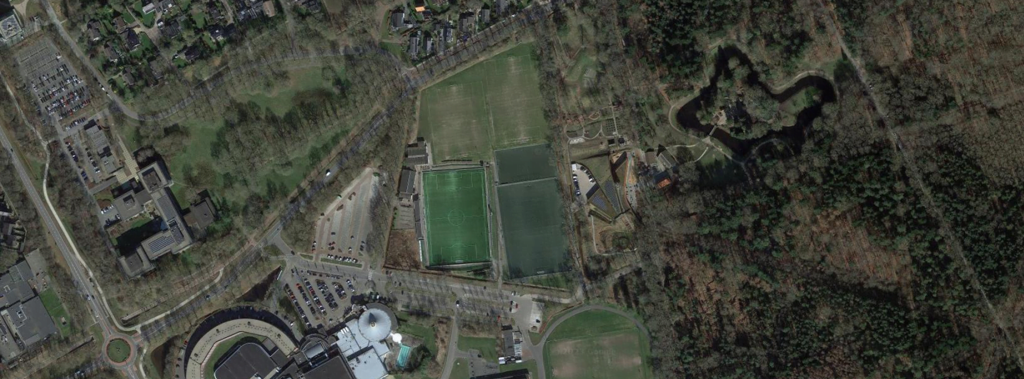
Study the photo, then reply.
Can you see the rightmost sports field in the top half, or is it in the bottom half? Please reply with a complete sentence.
It is in the bottom half that the rightmost sports field appears.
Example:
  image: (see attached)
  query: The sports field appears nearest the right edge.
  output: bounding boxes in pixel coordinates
[547,329,641,379]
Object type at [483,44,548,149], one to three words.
soccer field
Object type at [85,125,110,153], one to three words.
building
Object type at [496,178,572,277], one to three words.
sports field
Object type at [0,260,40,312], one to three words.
building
